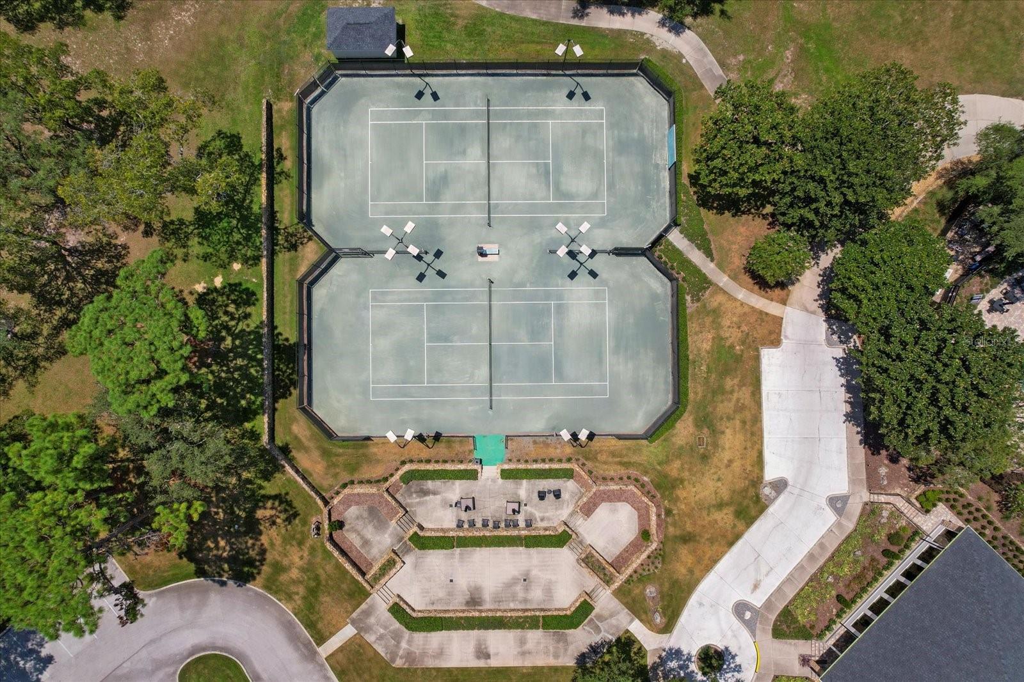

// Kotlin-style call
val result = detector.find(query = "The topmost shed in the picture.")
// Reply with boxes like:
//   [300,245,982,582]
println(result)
[327,7,397,58]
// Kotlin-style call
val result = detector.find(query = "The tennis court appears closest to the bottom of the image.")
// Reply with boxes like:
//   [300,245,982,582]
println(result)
[305,249,673,438]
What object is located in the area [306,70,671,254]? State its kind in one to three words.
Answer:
tennis court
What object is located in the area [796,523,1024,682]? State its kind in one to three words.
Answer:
building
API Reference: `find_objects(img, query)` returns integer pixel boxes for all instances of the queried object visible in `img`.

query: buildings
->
[327,7,397,58]
[796,523,1024,682]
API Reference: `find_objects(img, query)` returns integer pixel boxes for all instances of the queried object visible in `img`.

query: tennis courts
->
[305,249,673,438]
[306,70,671,254]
